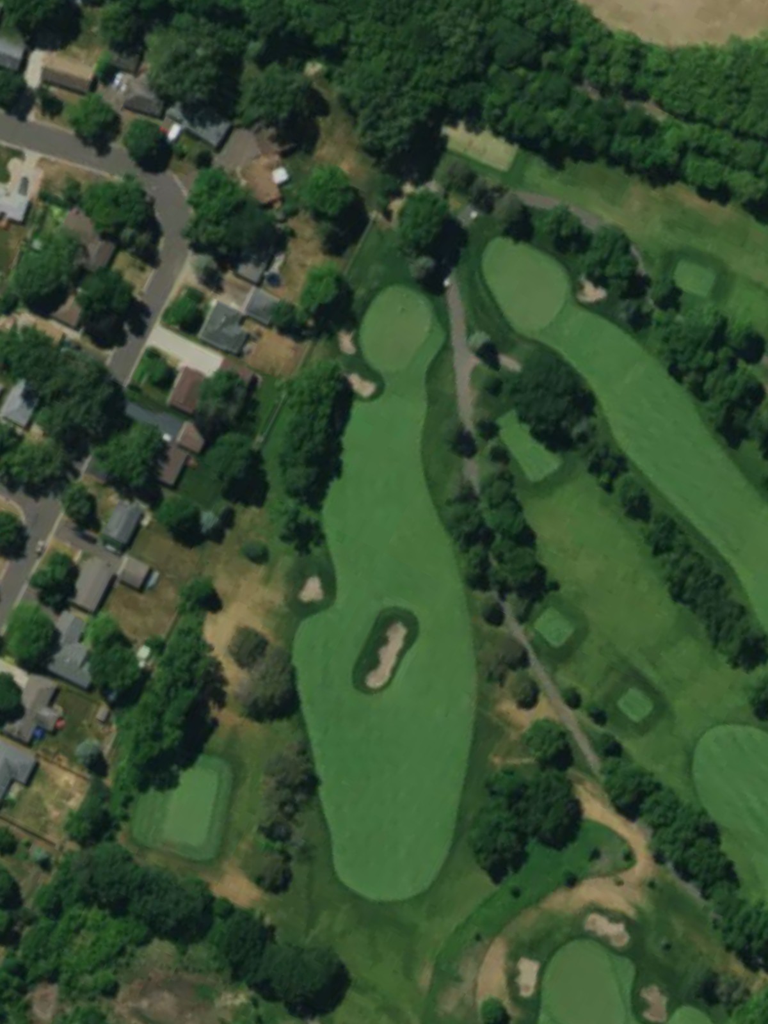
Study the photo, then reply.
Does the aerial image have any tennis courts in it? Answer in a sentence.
No, there's no tennis court here.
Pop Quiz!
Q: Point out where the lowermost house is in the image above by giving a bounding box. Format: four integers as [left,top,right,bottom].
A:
[0,736,40,813]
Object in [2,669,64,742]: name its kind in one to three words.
house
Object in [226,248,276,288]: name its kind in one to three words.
house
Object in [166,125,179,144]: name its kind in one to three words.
vehicle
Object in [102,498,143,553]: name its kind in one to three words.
building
